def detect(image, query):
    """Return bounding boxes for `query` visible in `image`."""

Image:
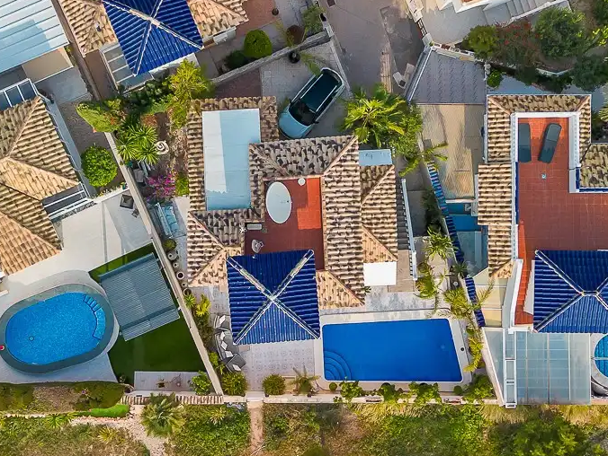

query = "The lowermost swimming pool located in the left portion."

[0,278,122,378]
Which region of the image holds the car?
top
